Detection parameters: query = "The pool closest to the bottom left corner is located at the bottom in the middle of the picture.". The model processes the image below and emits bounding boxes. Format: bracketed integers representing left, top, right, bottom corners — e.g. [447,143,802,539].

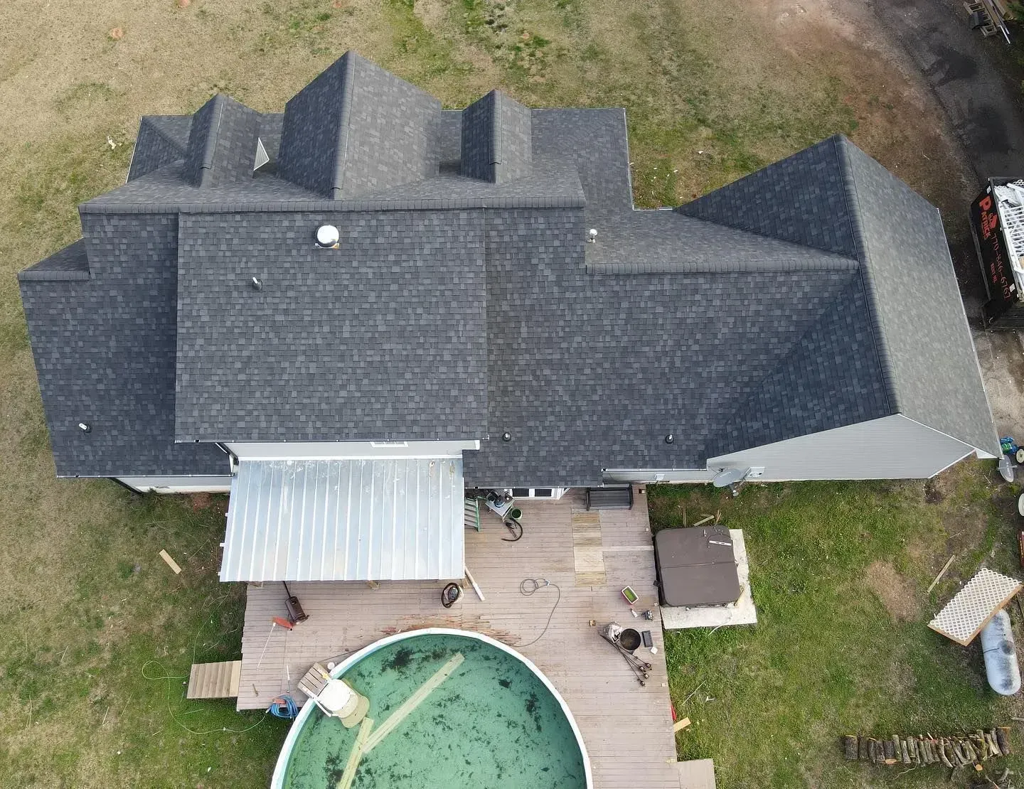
[271,625,592,789]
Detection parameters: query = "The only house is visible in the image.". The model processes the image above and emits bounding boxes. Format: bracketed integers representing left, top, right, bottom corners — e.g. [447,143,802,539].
[20,51,1004,505]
